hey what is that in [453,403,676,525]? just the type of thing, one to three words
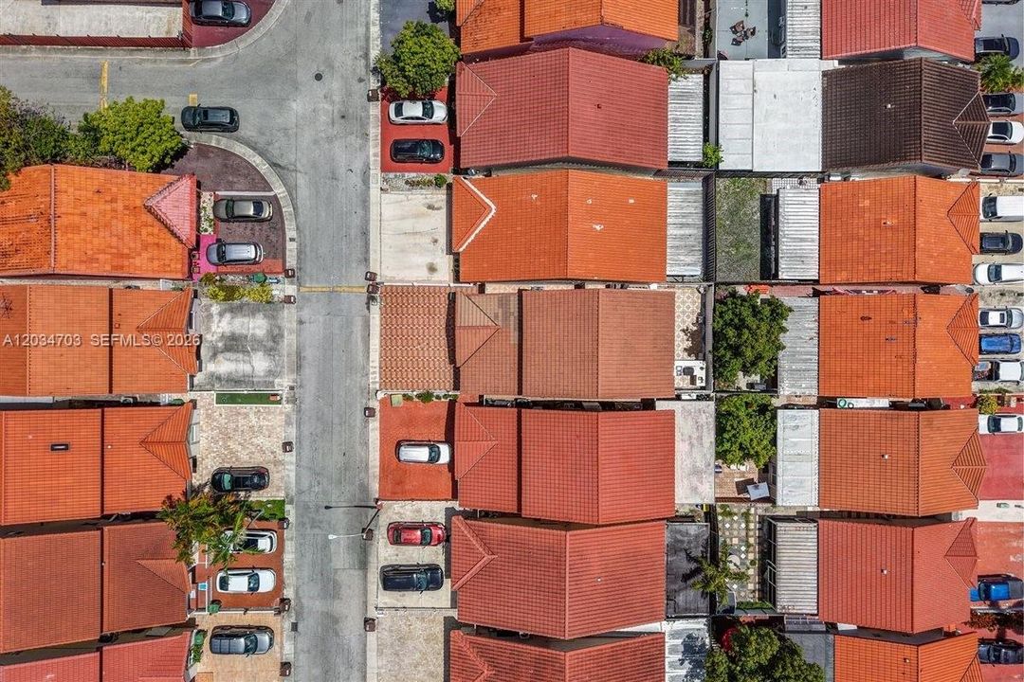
house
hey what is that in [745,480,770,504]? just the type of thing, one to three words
umbrella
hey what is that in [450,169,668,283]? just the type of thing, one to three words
house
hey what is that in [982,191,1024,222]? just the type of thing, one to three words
van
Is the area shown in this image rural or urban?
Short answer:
urban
